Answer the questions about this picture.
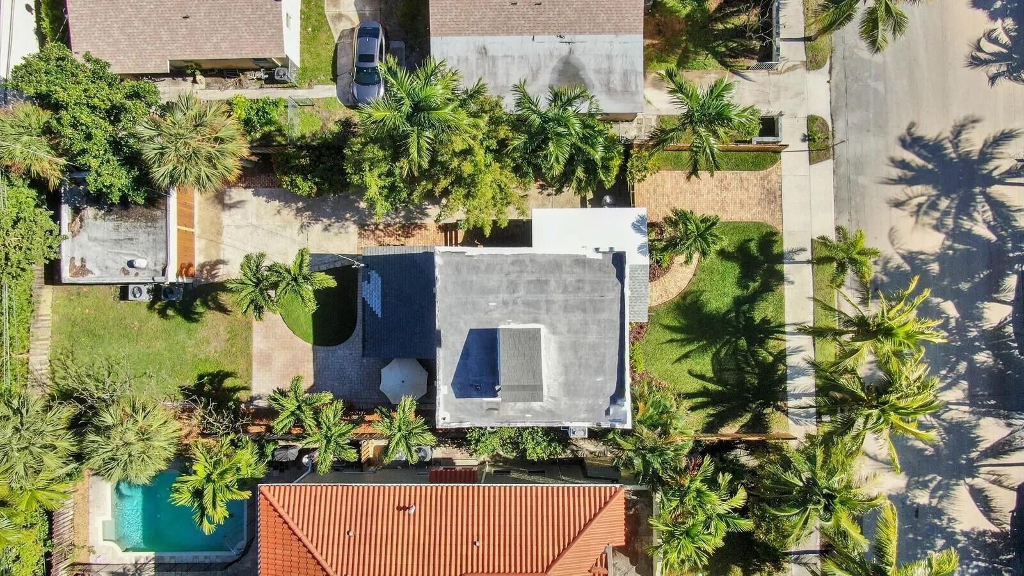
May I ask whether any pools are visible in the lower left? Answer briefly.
Yes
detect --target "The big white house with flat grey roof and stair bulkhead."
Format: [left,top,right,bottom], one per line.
[361,207,648,438]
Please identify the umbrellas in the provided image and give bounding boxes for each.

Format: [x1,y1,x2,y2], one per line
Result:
[276,439,304,465]
[382,358,427,400]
